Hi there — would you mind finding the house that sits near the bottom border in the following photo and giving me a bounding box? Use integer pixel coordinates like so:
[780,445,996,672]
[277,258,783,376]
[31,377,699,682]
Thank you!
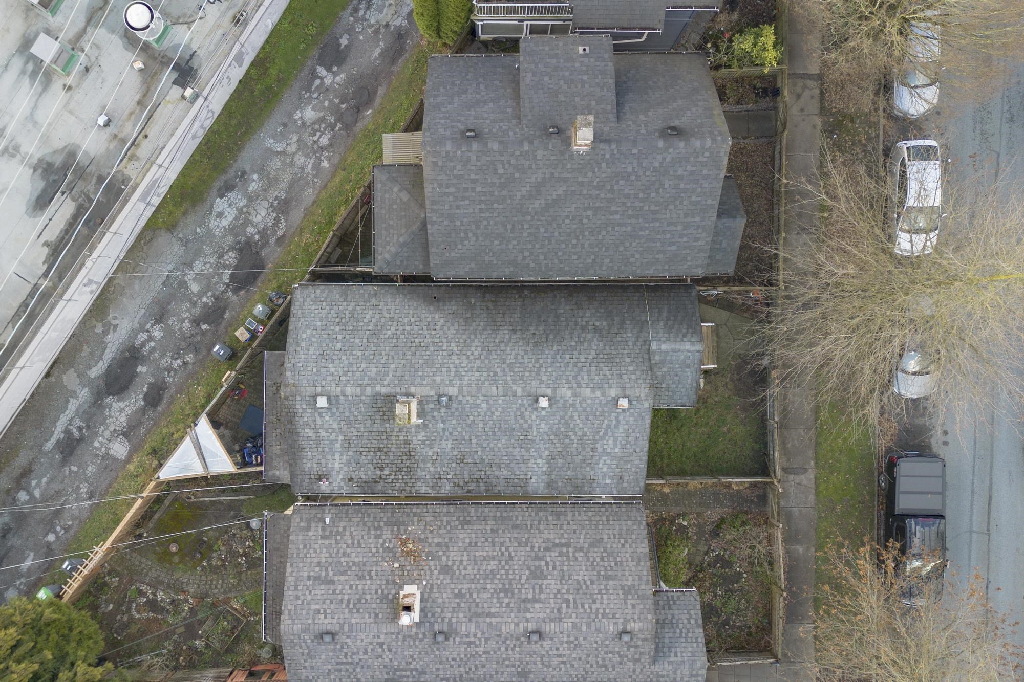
[263,496,707,682]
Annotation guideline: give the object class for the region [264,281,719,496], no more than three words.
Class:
house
